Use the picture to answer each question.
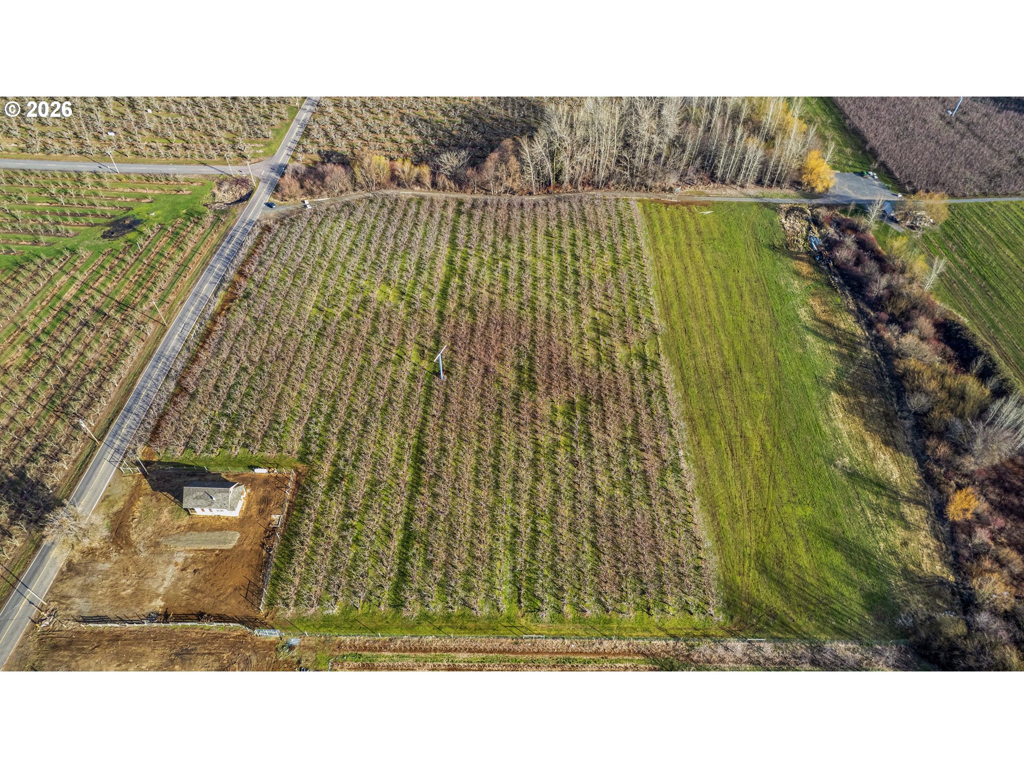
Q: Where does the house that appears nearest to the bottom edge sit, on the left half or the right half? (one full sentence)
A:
You can find the house that appears nearest to the bottom edge on the left side of the picture.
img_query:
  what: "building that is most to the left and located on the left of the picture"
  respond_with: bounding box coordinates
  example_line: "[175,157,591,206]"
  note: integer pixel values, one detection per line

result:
[182,479,251,516]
